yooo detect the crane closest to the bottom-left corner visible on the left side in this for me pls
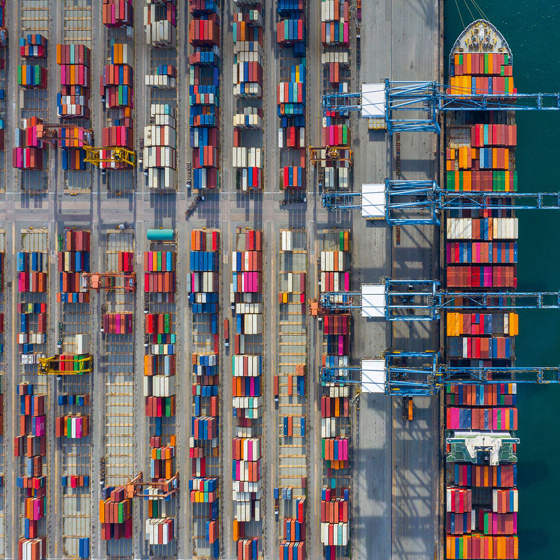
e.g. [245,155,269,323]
[126,470,181,499]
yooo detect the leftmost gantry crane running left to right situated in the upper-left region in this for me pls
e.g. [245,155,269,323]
[36,123,94,149]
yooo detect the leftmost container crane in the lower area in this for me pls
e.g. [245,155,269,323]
[36,352,94,375]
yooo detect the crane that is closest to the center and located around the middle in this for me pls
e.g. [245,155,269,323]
[307,296,354,319]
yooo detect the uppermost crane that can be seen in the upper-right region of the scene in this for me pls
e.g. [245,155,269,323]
[321,78,560,139]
